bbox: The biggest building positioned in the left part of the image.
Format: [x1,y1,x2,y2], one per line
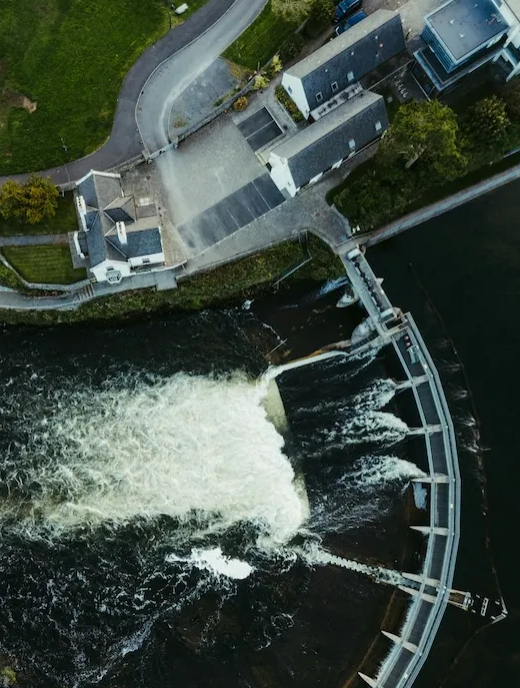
[73,169,163,287]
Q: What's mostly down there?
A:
water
